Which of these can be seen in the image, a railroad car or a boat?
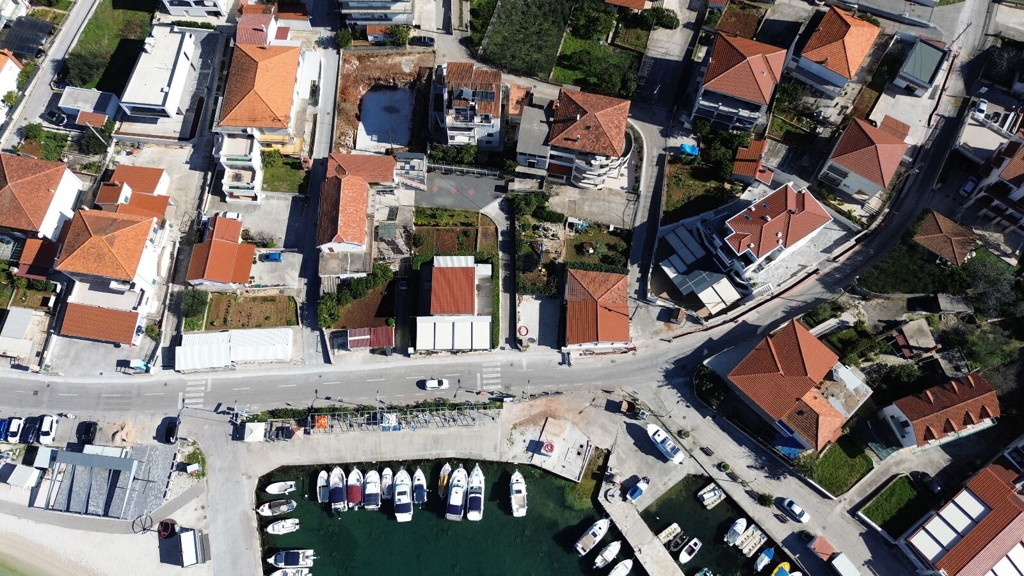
boat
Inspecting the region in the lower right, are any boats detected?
Yes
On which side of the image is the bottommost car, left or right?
right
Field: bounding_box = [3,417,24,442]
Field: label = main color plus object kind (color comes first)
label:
white car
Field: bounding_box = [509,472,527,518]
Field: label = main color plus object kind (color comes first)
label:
white boat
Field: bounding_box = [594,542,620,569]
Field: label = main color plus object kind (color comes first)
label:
white boat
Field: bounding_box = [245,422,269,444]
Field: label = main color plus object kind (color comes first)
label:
white tent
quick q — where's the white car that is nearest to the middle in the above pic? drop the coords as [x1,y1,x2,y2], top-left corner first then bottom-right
[425,376,448,389]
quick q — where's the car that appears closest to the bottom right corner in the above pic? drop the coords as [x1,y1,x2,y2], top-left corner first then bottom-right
[922,471,945,494]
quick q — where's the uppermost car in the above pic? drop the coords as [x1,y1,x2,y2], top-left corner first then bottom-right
[410,32,435,44]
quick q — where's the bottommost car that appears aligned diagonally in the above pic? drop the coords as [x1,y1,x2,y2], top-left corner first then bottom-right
[783,497,812,525]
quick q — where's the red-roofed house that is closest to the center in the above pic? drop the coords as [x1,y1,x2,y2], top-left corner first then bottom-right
[431,267,476,316]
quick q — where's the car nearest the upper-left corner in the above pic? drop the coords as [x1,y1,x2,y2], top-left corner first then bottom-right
[42,107,66,123]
